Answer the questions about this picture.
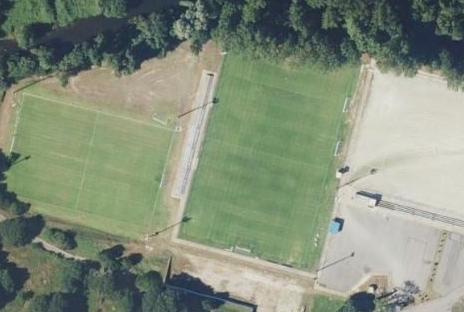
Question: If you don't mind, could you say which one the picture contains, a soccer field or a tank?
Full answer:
Of the two, only a soccer field appears.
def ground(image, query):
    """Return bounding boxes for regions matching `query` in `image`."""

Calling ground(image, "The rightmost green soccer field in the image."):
[180,54,362,272]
